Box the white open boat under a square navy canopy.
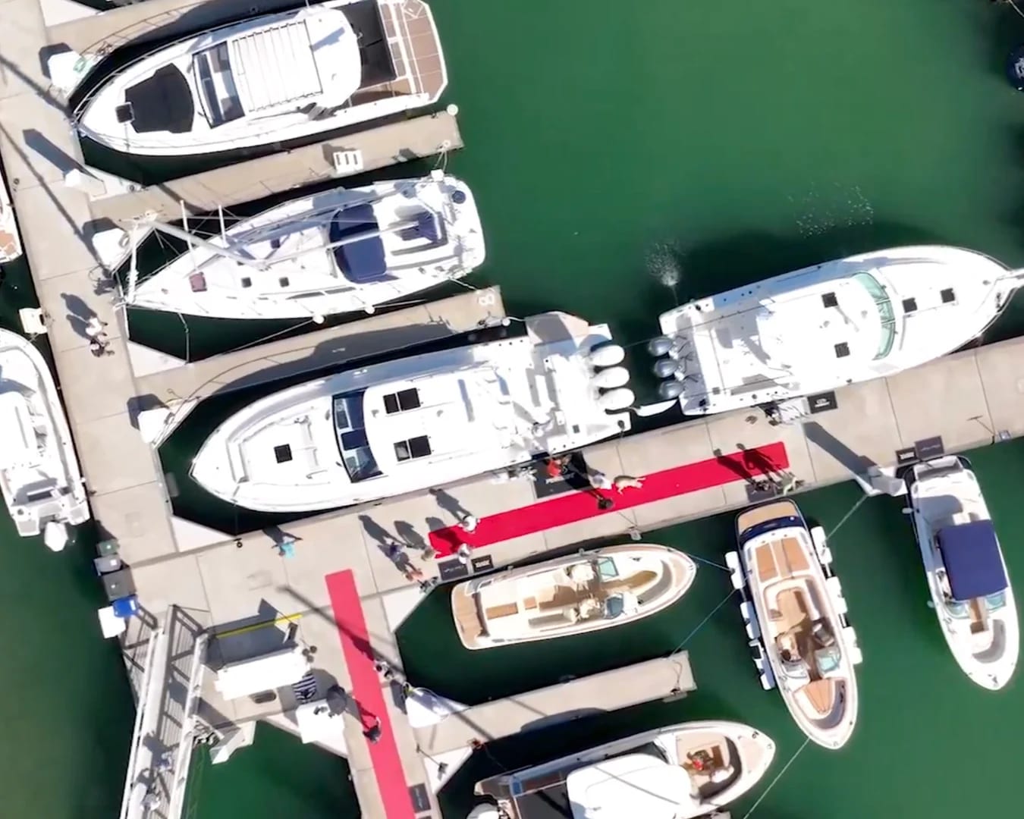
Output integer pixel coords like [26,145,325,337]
[901,455,1019,691]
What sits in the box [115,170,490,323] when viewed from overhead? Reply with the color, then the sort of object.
white boat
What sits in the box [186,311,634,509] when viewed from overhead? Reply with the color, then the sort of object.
white boat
